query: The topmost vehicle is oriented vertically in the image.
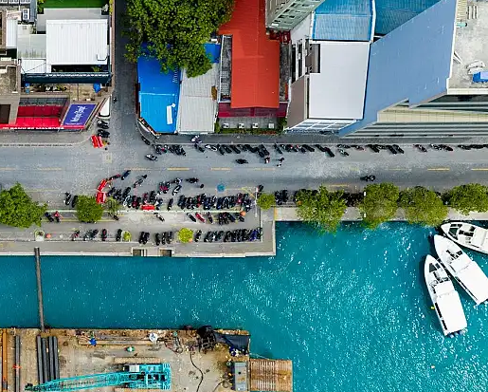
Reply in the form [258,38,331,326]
[100,92,112,119]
